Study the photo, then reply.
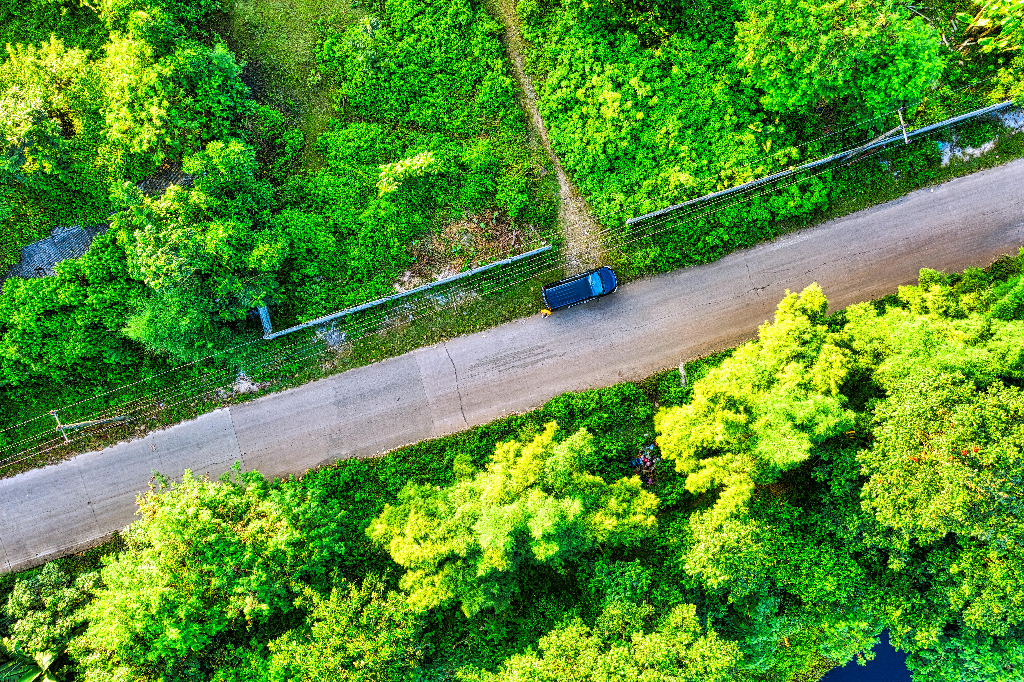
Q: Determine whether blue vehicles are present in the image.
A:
Yes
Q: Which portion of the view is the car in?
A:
center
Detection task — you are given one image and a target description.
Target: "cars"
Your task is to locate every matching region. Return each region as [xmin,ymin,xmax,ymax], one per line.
[539,265,622,314]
